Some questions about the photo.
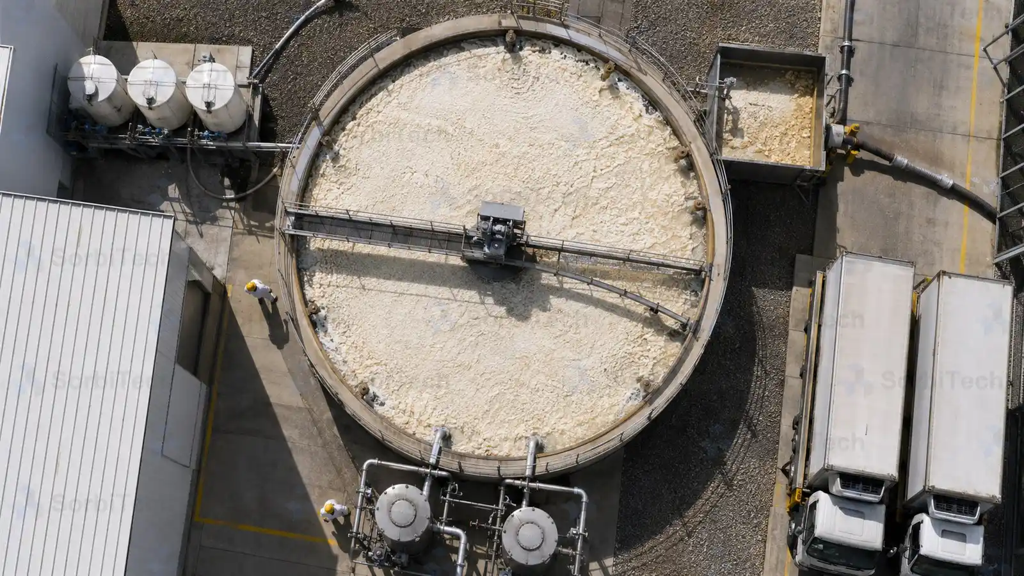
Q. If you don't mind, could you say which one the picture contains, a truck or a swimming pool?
truck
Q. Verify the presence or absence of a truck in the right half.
Yes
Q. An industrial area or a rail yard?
industrial area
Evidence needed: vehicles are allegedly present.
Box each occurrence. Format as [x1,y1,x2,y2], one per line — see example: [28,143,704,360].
[883,272,1013,576]
[788,253,914,576]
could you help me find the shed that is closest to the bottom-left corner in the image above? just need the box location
[0,189,222,576]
